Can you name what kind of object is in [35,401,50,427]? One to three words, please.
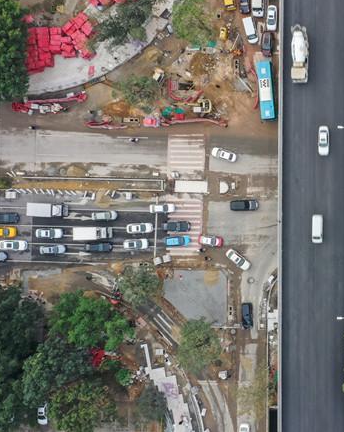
car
